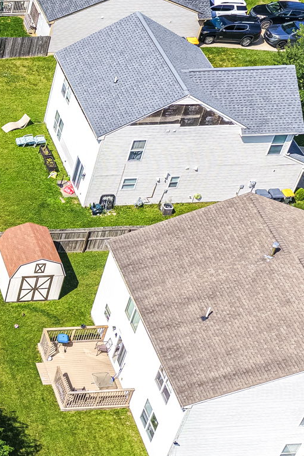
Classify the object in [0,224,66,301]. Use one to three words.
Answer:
shed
